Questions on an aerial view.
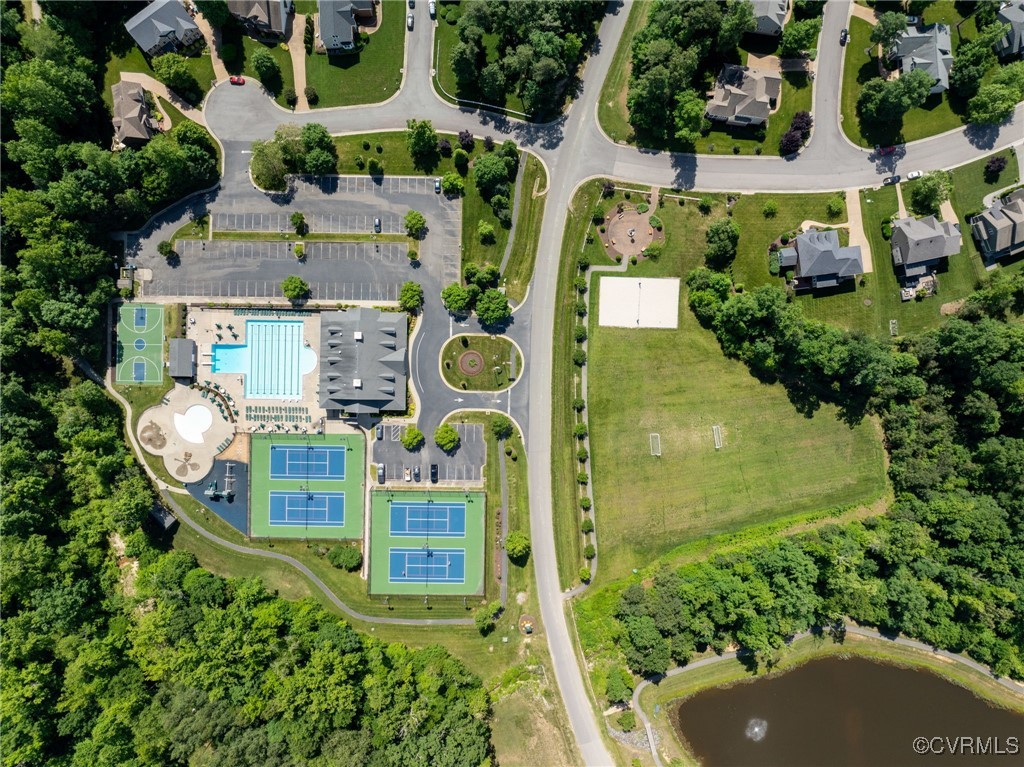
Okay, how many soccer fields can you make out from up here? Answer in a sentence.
I count 1 soccer field.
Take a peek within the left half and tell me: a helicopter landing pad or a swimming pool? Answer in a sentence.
Visible within the left half is a swimming pool.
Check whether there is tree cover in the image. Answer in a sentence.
Yes, there's tree cover in this view.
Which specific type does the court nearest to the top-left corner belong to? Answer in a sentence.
It turns out the court nearest to the top-left corner is a basketball court.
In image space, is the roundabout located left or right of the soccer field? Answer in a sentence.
You can see the roundabout positioned to the left of the soccer field.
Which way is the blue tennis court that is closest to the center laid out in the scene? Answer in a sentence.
In this picture, the blue tennis court that is closest to the center is oriented from left to right.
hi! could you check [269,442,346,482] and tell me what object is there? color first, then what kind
blue tennis court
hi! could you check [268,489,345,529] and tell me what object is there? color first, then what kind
blue tennis court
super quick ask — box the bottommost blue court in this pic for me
[389,546,465,587]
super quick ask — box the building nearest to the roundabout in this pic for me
[319,304,407,420]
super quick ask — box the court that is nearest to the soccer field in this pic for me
[598,276,680,329]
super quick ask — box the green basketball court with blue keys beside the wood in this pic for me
[113,304,164,385]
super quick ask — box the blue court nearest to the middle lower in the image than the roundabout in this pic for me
[389,500,466,540]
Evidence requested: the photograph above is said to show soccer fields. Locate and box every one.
[586,312,889,586]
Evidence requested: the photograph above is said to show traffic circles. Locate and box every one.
[410,287,533,454]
